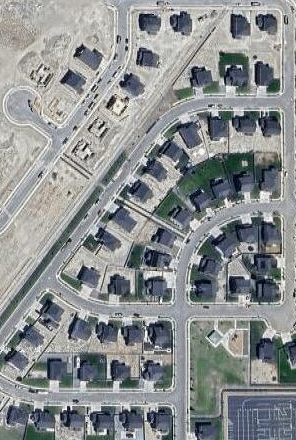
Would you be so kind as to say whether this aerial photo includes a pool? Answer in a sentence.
No, I can see no pool in this picture.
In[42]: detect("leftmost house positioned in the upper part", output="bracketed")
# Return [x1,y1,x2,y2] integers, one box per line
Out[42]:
[63,67,85,94]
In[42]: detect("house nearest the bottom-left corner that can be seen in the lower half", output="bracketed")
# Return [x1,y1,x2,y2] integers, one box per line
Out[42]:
[7,404,28,427]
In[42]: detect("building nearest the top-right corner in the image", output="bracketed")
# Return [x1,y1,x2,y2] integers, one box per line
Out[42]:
[257,14,276,33]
